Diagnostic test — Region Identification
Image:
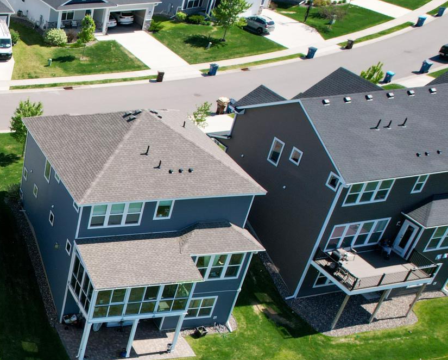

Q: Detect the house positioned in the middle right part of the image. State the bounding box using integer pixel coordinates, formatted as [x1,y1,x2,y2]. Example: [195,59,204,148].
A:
[209,60,448,329]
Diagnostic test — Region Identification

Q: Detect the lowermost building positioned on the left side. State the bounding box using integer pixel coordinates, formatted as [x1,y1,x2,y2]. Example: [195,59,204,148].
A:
[22,106,267,360]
